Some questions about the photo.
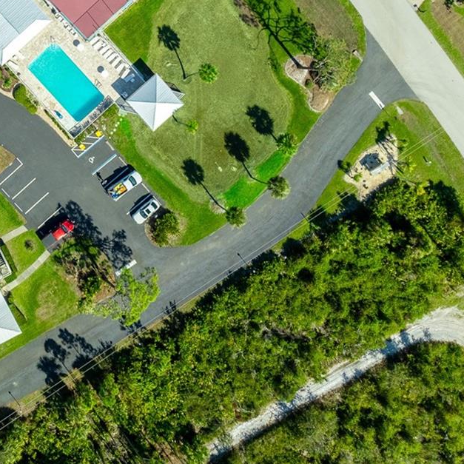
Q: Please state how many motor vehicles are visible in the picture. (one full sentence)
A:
In total, 3 motor vehicles can be seen.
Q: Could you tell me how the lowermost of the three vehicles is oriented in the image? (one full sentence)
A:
The lowermost of the three vehicles is laid out at an angle.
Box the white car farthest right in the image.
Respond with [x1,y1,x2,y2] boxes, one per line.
[133,198,160,224]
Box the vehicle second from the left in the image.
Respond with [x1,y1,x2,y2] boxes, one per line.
[109,171,143,202]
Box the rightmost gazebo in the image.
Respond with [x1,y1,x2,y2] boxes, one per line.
[125,73,184,132]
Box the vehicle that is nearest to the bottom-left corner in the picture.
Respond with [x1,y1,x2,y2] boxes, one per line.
[40,219,76,249]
